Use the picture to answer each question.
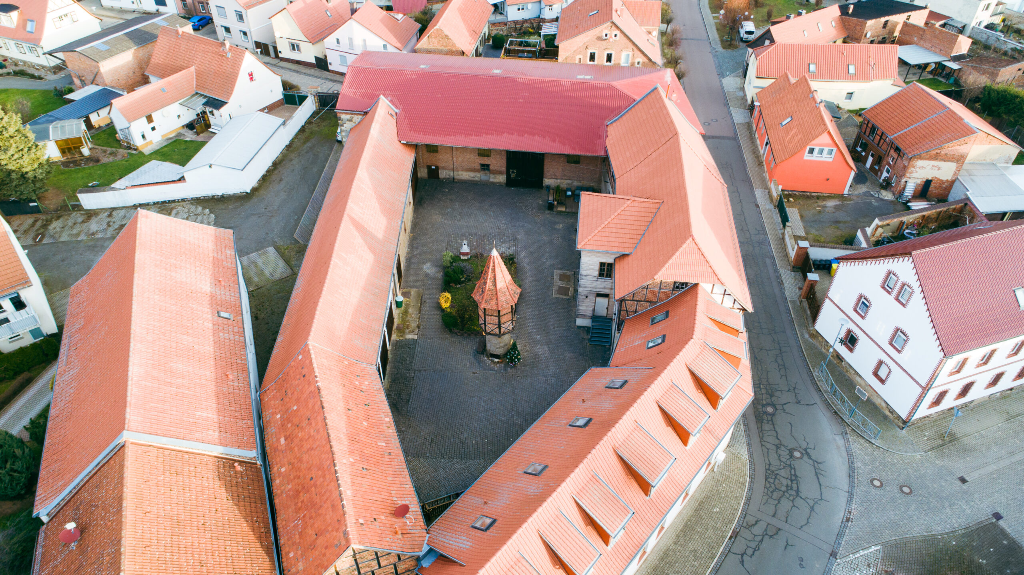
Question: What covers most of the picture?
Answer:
buildings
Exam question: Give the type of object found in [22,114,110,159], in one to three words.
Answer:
building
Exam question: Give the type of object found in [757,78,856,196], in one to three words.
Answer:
house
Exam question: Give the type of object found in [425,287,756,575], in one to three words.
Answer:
building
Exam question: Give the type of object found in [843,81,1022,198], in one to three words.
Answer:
house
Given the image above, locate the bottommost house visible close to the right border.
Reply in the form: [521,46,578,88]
[810,216,1024,428]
